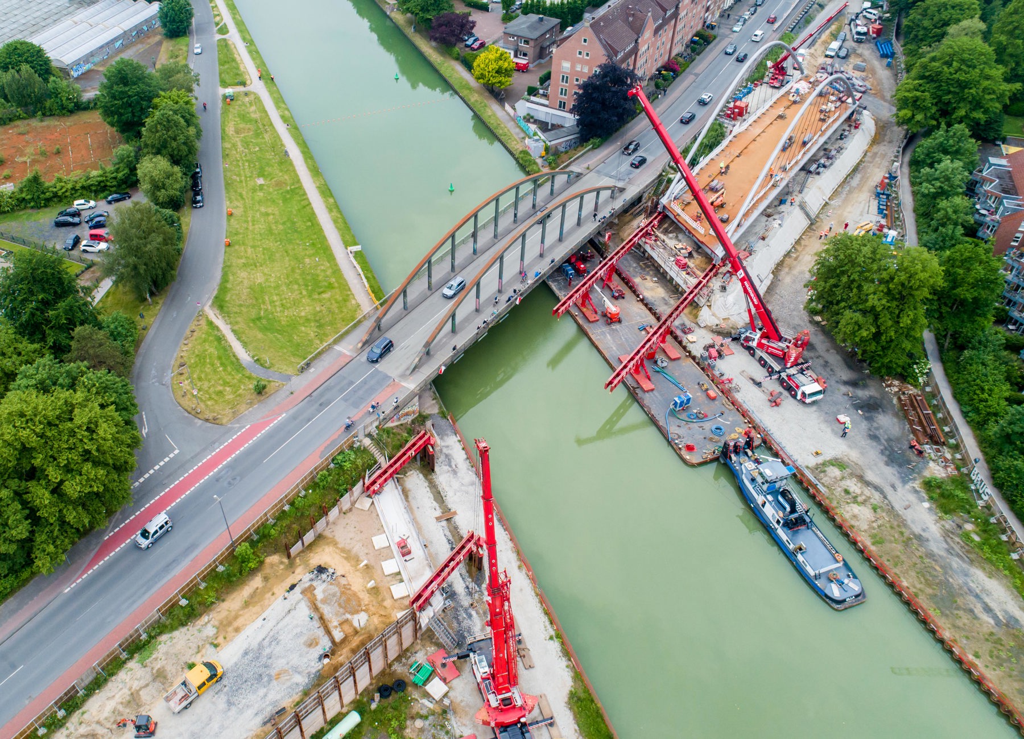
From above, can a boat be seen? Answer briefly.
Yes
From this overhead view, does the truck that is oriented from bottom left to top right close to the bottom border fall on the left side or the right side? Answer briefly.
left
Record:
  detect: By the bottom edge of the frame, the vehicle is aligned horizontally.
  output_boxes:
[105,715,154,739]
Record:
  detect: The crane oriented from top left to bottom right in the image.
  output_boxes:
[606,83,826,401]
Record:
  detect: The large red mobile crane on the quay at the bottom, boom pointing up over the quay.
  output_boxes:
[429,430,579,739]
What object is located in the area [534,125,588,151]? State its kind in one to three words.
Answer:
building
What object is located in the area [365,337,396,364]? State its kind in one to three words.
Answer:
car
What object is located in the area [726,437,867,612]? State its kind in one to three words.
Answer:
boat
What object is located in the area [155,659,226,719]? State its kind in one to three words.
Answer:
truck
